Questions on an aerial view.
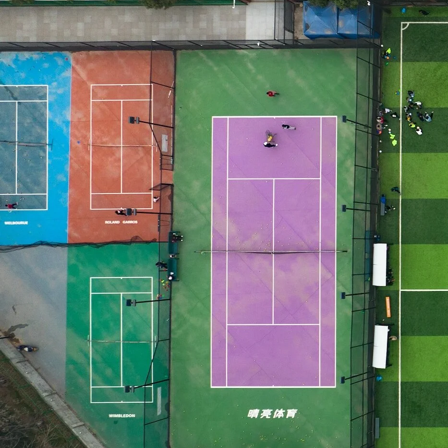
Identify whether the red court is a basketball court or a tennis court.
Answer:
tennis court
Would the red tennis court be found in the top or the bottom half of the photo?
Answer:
top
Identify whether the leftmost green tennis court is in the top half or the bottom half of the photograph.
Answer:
bottom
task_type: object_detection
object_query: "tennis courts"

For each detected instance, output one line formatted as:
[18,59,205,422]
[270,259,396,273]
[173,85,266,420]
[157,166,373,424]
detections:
[0,52,72,244]
[170,49,371,448]
[66,244,172,448]
[68,50,176,243]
